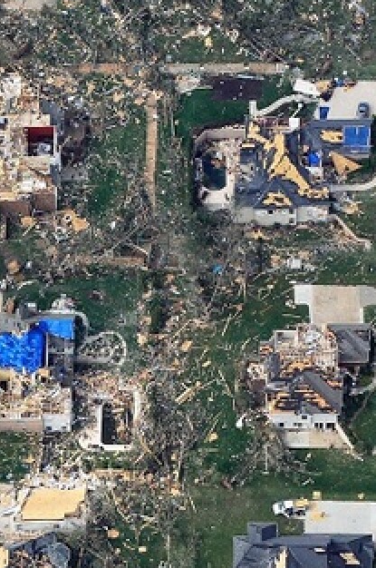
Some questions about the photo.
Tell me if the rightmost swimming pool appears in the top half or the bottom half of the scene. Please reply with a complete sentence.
You can find the rightmost swimming pool in the top half.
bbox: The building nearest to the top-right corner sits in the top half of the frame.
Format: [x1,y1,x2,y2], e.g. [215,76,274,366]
[190,117,371,226]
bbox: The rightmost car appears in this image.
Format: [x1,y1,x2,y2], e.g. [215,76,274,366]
[358,98,370,119]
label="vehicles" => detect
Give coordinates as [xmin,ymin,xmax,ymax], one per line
[273,499,309,516]
[358,98,370,119]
